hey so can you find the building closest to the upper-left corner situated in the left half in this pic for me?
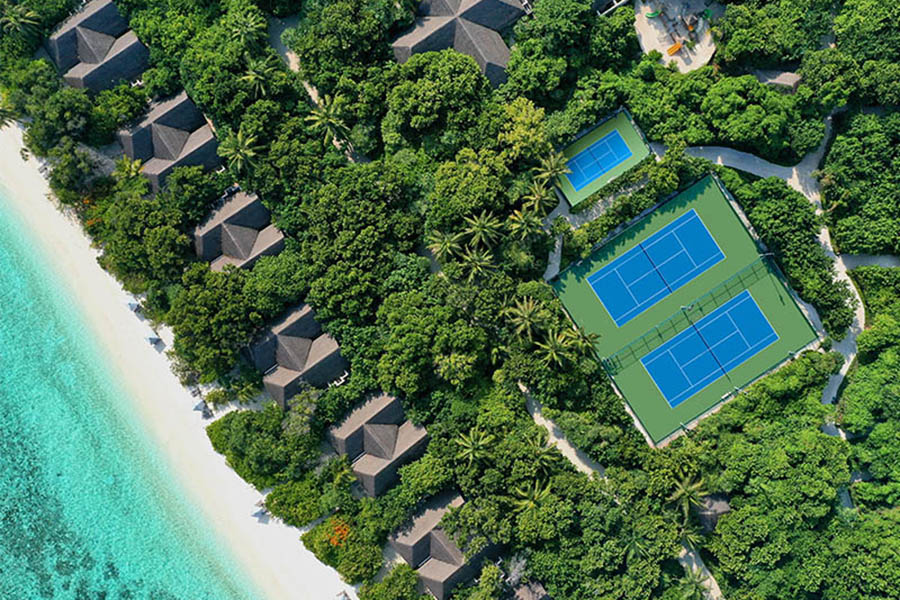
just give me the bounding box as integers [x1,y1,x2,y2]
[42,0,159,105]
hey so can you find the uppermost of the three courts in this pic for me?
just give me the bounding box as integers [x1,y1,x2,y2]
[545,109,648,206]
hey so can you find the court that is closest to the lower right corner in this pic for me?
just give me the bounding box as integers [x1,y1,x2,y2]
[603,255,822,445]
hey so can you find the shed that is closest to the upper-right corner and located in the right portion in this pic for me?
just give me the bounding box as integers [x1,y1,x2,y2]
[766,71,802,94]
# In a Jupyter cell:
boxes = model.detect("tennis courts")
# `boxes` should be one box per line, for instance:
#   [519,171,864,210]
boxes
[553,177,762,358]
[545,109,648,206]
[603,255,822,445]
